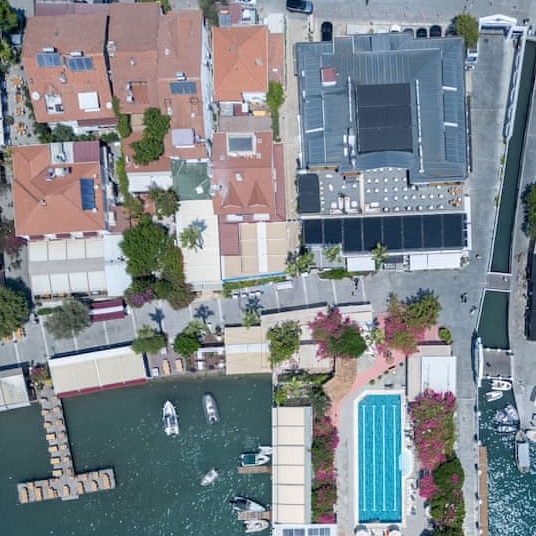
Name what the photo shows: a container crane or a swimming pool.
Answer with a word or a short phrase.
swimming pool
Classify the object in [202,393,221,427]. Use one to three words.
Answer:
boat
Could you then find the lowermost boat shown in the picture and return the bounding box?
[240,519,270,533]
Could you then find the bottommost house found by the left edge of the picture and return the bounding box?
[11,142,115,239]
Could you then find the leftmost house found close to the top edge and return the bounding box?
[21,2,126,133]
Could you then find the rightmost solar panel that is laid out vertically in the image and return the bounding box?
[81,179,97,211]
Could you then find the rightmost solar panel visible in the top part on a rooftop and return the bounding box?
[169,82,197,96]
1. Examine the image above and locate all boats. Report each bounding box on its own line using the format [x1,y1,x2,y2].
[486,380,513,391]
[227,493,266,512]
[480,392,505,403]
[490,409,509,426]
[515,433,530,474]
[503,401,518,424]
[525,432,536,443]
[240,519,270,533]
[201,468,220,483]
[163,401,179,439]
[202,393,221,427]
